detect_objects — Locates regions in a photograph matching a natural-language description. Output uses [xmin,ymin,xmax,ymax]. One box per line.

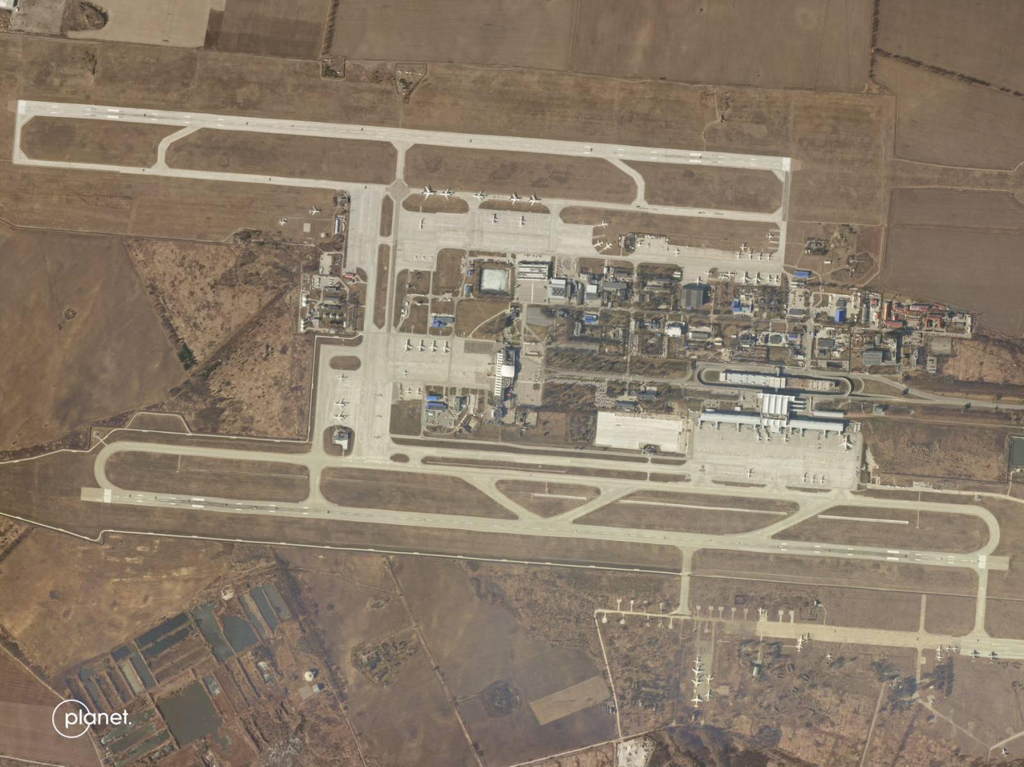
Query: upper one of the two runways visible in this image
[8,100,800,171]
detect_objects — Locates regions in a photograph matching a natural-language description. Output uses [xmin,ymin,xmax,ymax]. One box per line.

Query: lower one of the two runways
[81,487,1009,571]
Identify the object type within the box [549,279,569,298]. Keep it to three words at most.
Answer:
building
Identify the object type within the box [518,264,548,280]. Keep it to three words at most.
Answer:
building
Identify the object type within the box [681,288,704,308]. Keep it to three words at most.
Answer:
hangar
